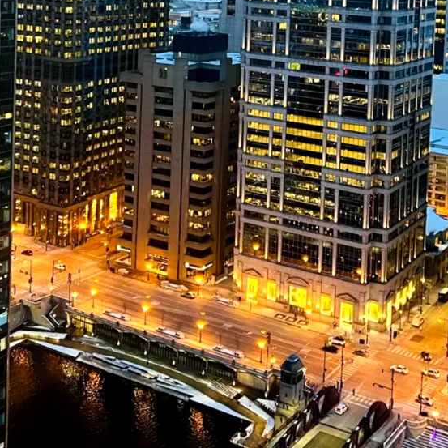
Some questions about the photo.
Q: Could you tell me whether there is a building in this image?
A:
Yes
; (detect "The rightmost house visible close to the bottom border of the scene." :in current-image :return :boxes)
[258,349,325,441]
